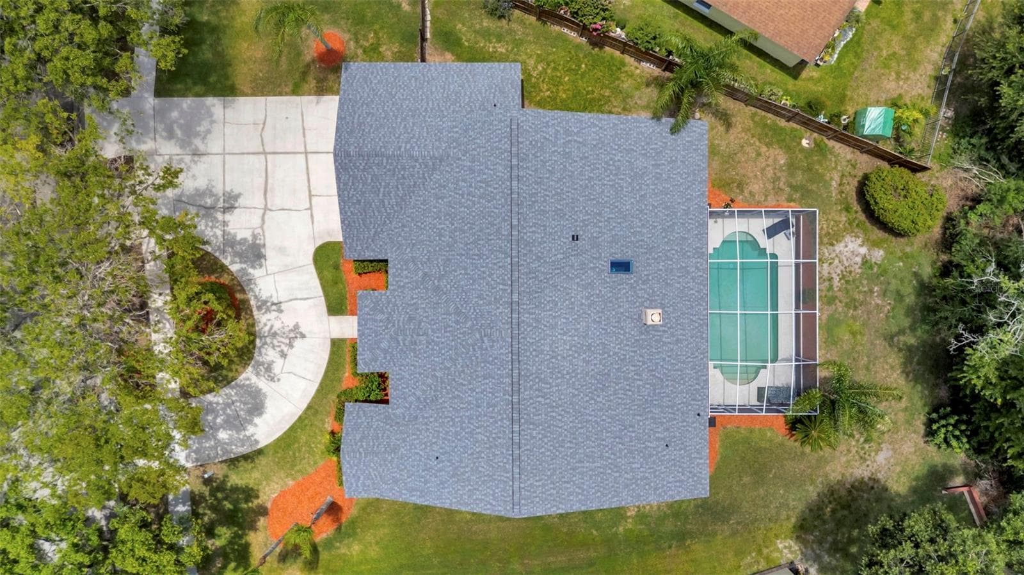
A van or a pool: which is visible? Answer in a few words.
pool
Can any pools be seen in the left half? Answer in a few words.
No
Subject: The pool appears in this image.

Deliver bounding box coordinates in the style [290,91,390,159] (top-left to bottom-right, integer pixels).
[711,230,780,386]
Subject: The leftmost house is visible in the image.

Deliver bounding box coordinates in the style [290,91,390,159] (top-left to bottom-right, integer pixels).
[333,61,709,518]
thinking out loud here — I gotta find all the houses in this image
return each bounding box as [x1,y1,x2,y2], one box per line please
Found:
[333,61,709,518]
[680,0,852,66]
